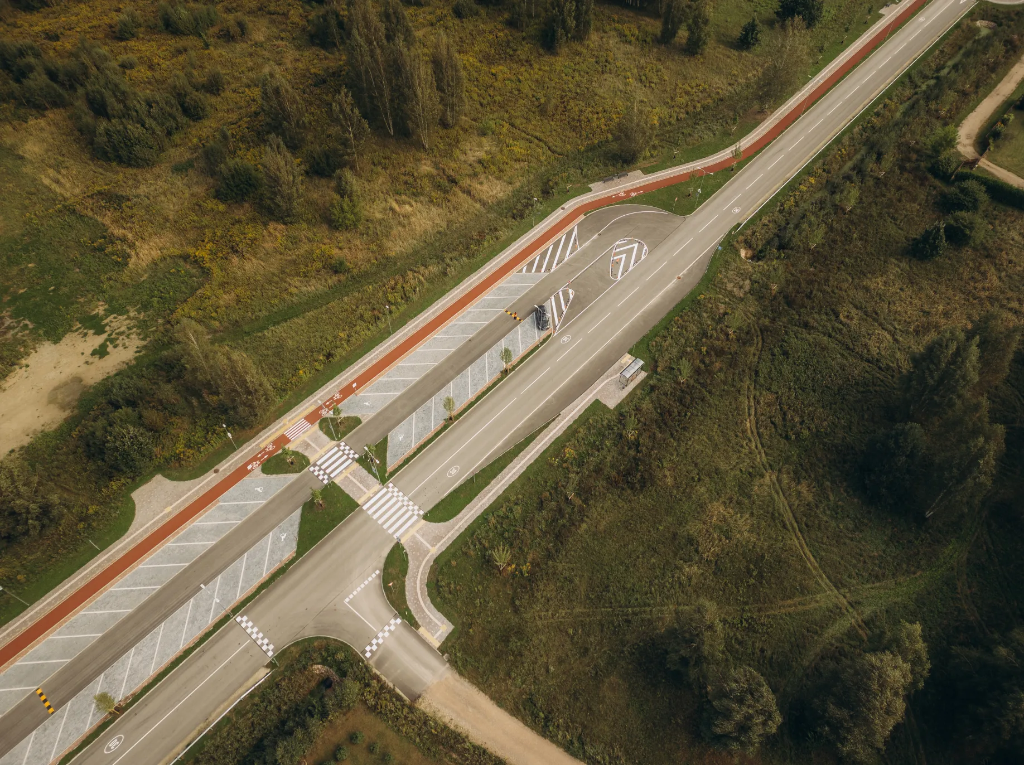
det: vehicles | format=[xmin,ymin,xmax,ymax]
[538,304,551,328]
